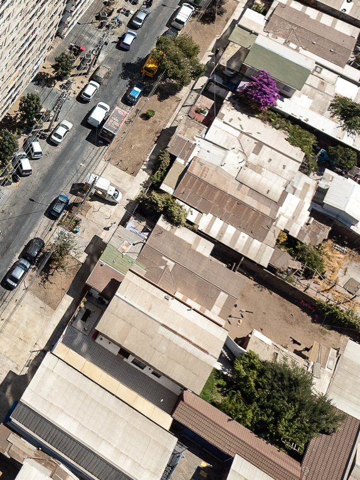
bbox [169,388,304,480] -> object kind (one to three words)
house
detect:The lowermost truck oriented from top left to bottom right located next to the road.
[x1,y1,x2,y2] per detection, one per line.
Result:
[86,171,126,208]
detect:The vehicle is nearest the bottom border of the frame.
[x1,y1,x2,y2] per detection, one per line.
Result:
[4,259,32,289]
